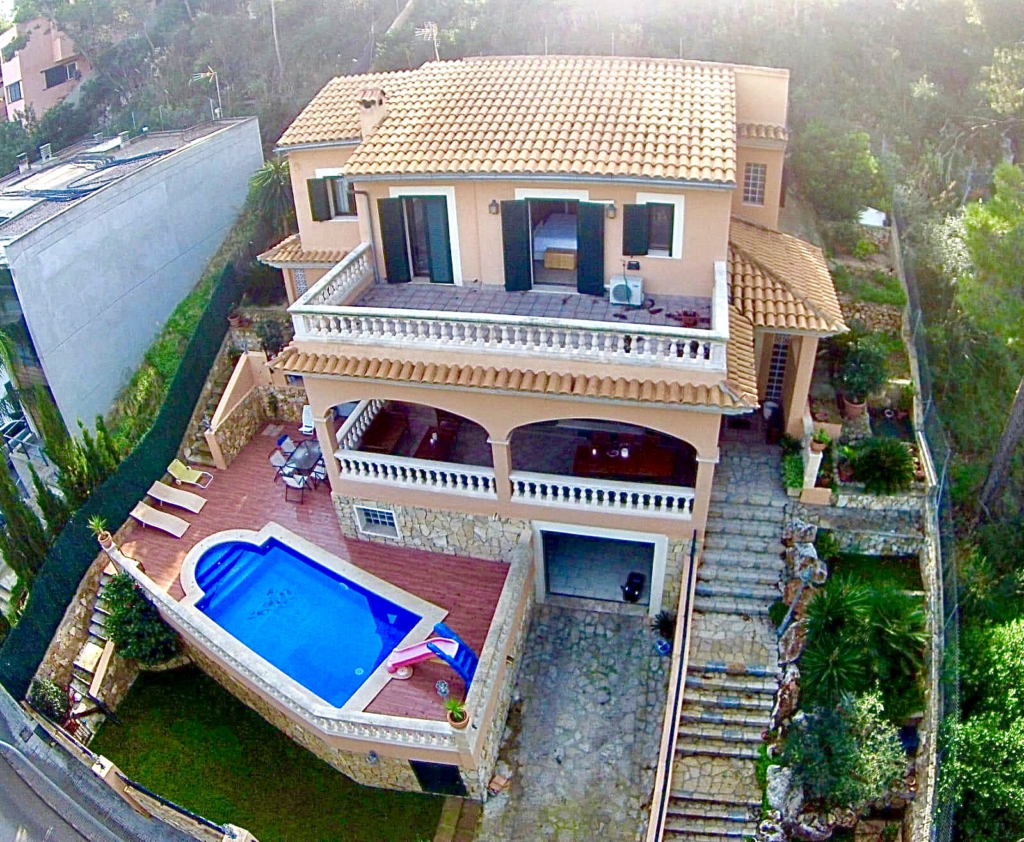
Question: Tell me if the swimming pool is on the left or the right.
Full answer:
The swimming pool is on the left side of the image.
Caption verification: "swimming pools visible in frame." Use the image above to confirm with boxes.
[173,528,441,709]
